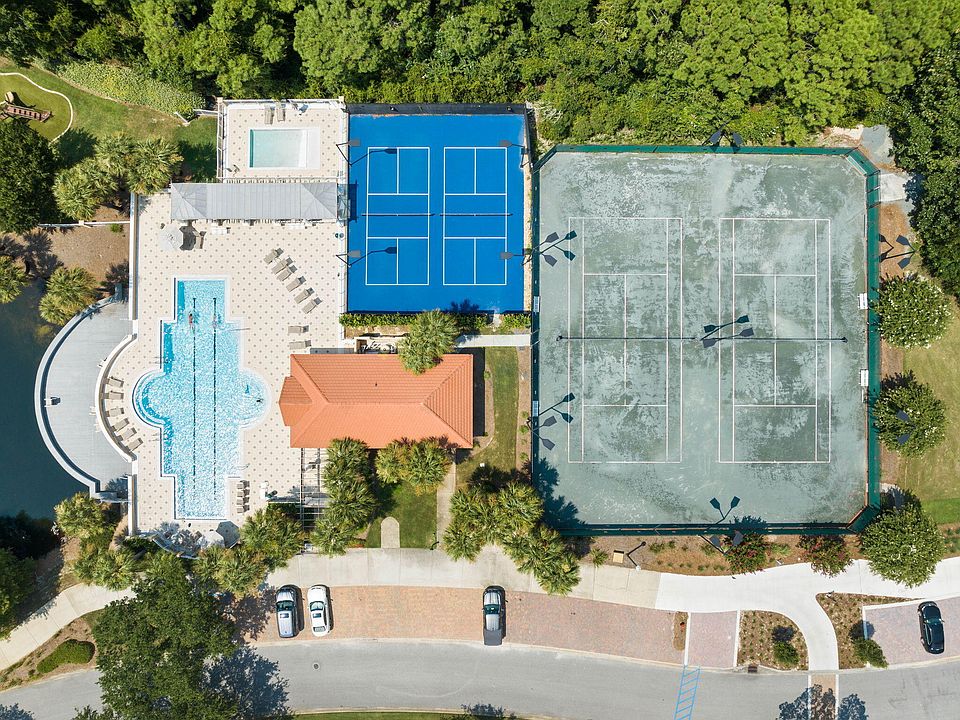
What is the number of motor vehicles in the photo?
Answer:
4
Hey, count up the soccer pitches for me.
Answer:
0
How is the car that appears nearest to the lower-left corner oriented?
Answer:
up and down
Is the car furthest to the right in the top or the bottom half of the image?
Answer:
bottom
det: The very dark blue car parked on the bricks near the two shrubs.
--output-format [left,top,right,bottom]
[915,602,945,653]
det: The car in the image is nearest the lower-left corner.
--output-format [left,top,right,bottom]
[276,586,302,638]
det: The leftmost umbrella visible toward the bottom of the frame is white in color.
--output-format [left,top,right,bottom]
[205,526,226,547]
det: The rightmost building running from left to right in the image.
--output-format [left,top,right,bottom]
[279,353,473,449]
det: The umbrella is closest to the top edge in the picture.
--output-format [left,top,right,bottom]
[160,228,186,253]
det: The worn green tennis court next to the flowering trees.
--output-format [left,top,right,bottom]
[701,155,866,528]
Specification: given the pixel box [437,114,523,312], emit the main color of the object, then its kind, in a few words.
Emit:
blue sports court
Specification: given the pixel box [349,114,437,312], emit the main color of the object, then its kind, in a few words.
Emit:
blue sports court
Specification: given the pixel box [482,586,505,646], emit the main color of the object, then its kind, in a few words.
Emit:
gray truck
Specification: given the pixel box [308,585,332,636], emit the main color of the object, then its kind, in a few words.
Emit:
white car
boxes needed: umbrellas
[160,228,186,253]
[205,526,226,547]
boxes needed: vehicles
[482,586,505,646]
[276,586,302,638]
[915,602,945,653]
[308,585,332,636]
